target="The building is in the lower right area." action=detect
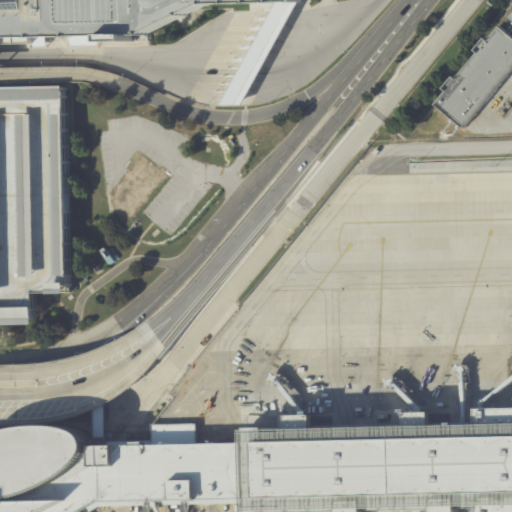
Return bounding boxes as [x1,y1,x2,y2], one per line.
[235,408,512,512]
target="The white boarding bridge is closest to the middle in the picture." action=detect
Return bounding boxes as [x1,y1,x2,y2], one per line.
[266,374,303,414]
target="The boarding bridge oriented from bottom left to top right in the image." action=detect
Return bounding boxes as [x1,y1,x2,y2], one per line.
[476,370,512,408]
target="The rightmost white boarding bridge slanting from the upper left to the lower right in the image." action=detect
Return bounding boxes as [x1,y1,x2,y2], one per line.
[380,378,420,412]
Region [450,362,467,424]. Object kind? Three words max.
jet bridge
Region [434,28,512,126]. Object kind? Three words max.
building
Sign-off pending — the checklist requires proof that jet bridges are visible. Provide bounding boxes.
[266,374,303,414]
[476,370,512,408]
[450,362,467,424]
[380,378,420,412]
